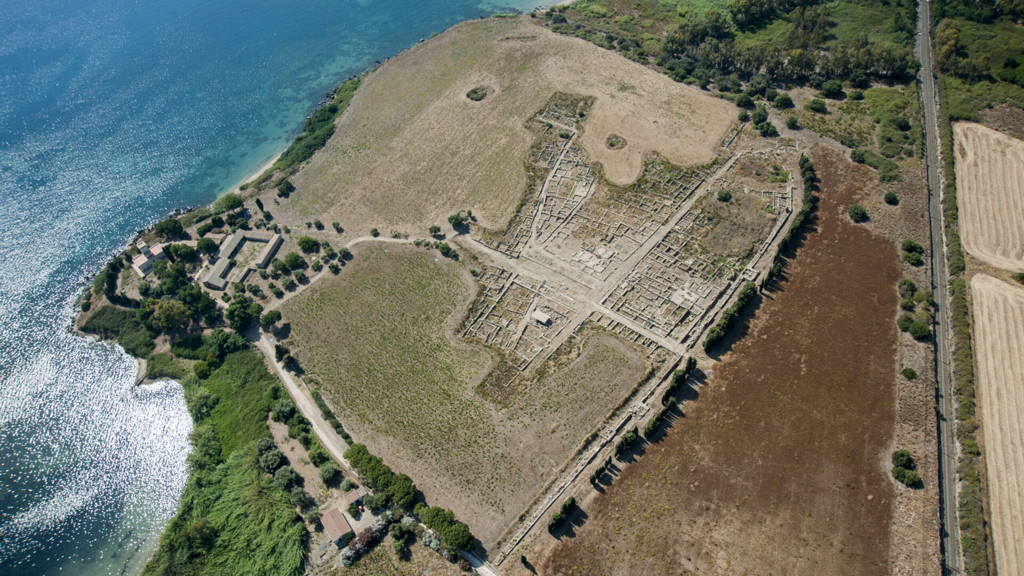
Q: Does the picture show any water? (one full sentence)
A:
Yes, water can be seen from above here.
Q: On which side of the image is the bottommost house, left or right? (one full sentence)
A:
The bottommost house appears in the left half of the scene.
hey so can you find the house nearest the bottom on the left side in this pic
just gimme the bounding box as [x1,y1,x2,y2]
[320,509,351,543]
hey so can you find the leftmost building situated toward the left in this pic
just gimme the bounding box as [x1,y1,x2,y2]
[132,241,167,278]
